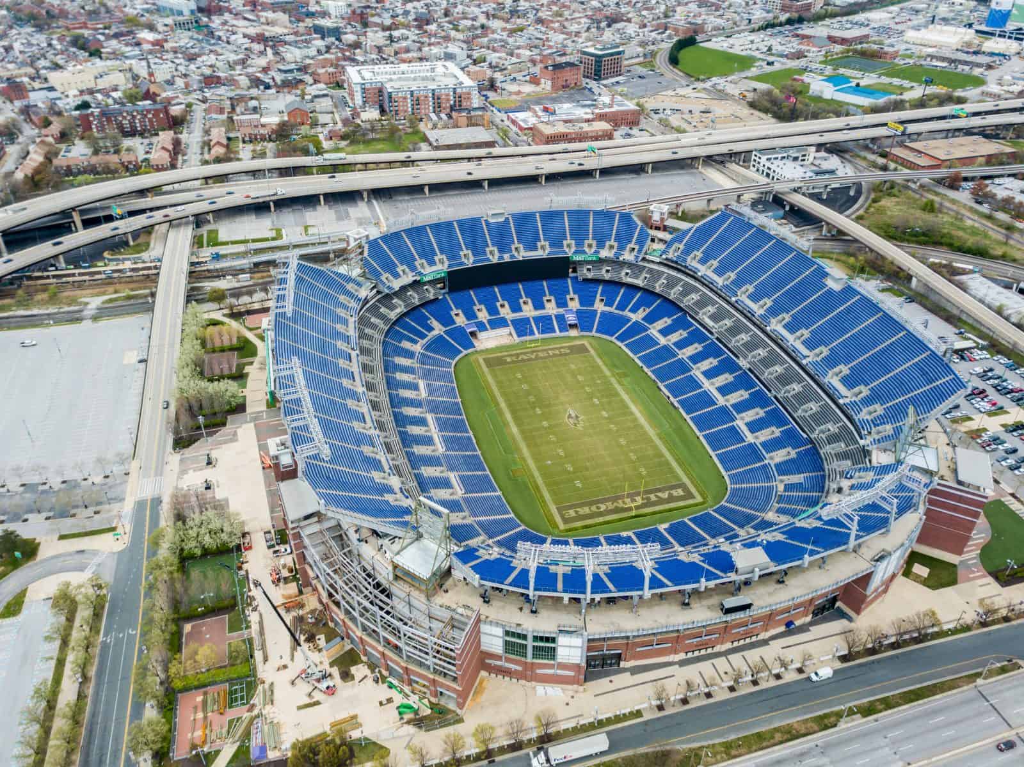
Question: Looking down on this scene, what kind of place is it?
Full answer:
This looks like a sports ground.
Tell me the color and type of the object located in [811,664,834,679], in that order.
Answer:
white vehicle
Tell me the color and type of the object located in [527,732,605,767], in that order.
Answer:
white truck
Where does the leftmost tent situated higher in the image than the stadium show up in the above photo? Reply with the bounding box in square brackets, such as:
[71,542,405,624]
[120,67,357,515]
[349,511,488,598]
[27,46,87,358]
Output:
[903,28,975,50]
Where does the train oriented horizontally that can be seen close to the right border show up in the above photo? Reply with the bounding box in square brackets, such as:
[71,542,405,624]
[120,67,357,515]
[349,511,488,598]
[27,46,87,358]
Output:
[937,255,998,273]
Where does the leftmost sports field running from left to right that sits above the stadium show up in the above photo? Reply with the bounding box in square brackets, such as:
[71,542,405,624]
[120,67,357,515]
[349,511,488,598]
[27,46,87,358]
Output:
[679,47,761,78]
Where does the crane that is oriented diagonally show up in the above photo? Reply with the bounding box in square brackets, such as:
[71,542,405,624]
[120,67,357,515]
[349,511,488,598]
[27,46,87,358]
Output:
[252,579,340,701]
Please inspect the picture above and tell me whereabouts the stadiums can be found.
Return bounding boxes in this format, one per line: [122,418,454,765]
[258,199,998,714]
